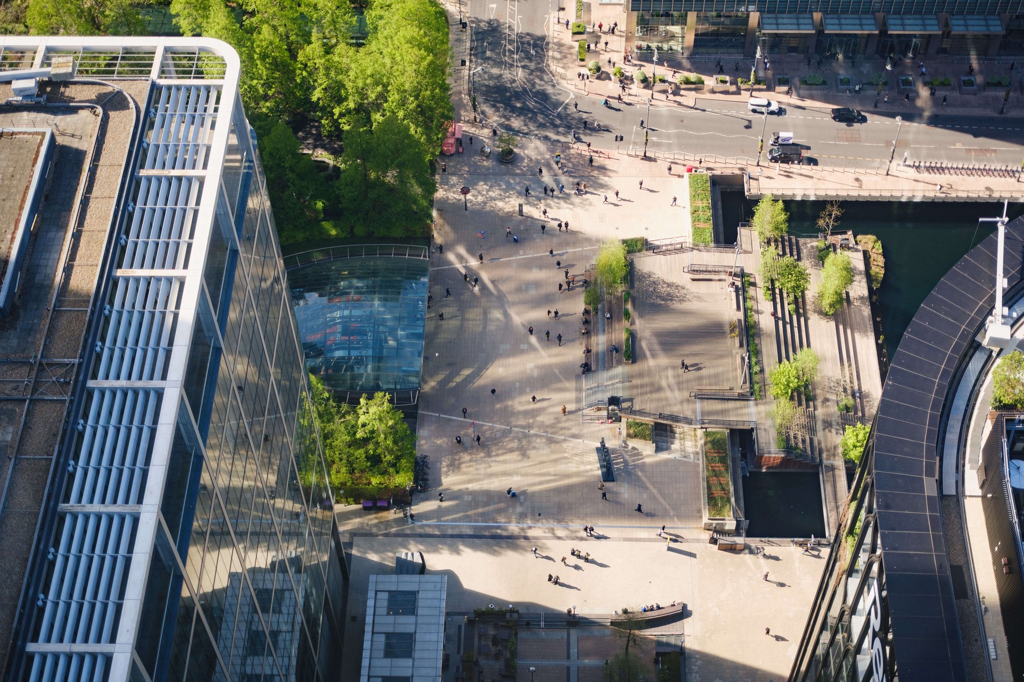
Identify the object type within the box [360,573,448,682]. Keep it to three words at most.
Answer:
building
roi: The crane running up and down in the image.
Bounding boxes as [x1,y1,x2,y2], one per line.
[959,201,1020,374]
